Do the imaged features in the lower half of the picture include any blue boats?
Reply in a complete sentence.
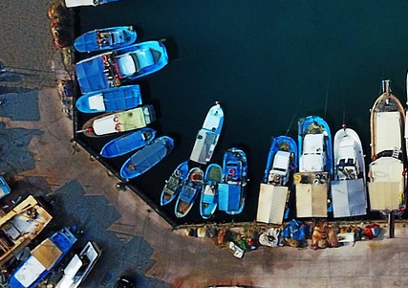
Yes, looking in the lower half of the picture, one can make out a blue boat.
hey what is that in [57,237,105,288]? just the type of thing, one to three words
boat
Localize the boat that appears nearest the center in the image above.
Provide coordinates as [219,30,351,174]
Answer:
[190,104,223,165]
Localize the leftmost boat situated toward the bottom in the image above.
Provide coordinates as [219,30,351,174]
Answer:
[0,177,18,201]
